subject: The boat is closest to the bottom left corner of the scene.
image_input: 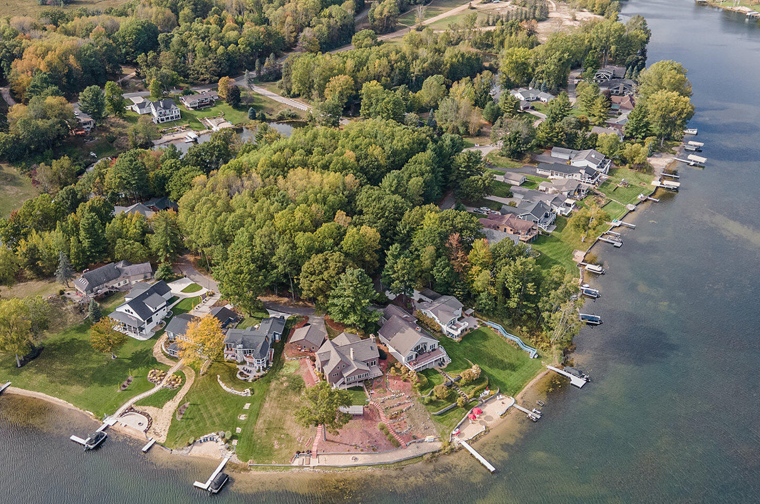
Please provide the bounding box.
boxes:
[85,431,108,450]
